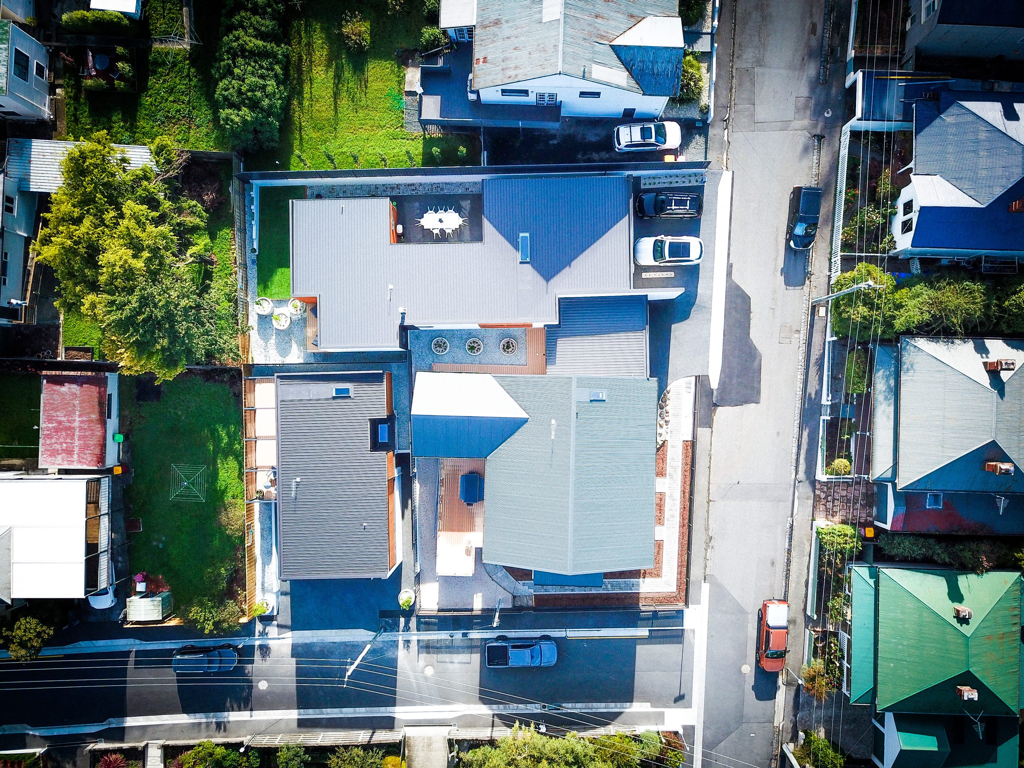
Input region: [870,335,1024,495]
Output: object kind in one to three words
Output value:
house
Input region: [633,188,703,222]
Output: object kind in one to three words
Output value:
car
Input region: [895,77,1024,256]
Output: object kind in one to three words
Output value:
house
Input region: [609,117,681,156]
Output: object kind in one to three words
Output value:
car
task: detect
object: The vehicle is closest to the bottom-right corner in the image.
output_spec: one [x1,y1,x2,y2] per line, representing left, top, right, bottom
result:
[756,596,793,672]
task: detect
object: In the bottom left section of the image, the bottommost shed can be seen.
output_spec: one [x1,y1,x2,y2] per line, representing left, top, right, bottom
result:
[113,590,173,623]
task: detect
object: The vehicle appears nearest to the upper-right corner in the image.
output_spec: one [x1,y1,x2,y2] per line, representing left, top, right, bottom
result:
[785,181,824,256]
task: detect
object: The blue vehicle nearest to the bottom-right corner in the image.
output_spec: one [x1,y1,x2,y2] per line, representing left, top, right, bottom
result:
[486,631,557,668]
